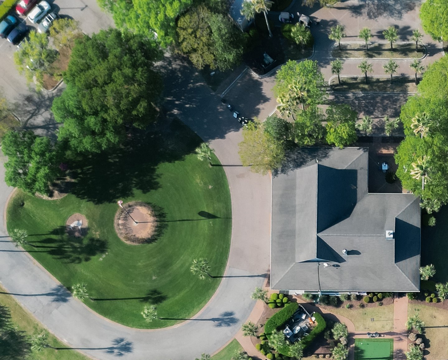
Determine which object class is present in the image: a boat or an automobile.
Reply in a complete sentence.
There is an automobile in the scene.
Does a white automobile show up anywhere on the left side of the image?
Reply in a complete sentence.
Yes, a white automobile appears on the left side of the image.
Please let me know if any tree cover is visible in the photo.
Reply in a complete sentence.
Yes, tree cover shows up in the scene.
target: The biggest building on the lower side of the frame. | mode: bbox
[271,147,421,300]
